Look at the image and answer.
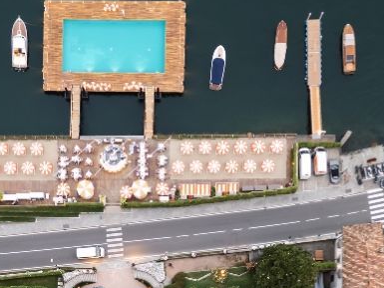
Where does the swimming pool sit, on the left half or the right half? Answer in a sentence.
You can find the swimming pool on the left side of the picture.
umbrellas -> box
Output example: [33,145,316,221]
[30,143,43,156]
[3,162,16,176]
[270,141,283,155]
[180,141,194,155]
[40,162,52,175]
[234,141,247,155]
[22,162,34,175]
[12,143,26,156]
[217,141,229,155]
[0,143,9,156]
[58,183,70,197]
[131,180,151,200]
[225,161,238,174]
[155,183,169,197]
[261,161,275,174]
[198,141,212,155]
[119,187,132,199]
[208,160,221,173]
[243,160,256,174]
[76,180,94,200]
[190,160,203,174]
[172,161,185,174]
[251,140,265,154]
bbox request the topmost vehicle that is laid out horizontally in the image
[76,244,105,258]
